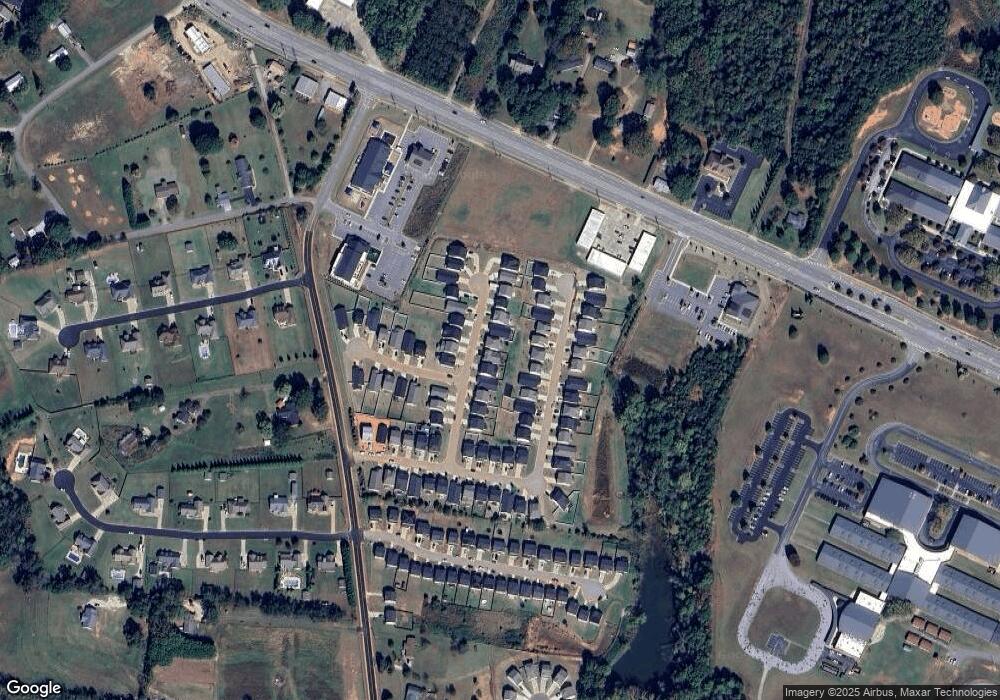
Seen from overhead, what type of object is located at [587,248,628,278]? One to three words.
shed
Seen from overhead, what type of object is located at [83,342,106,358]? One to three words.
house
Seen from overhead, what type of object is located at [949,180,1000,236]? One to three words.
building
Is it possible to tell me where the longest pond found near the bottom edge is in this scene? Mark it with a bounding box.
[607,544,676,684]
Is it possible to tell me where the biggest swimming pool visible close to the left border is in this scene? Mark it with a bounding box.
[15,451,28,471]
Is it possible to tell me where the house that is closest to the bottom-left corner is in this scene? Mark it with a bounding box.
[79,604,100,630]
